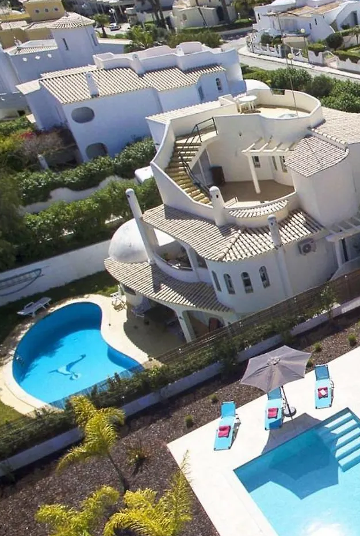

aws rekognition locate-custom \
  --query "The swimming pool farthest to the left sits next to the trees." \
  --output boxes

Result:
[3,298,154,411]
